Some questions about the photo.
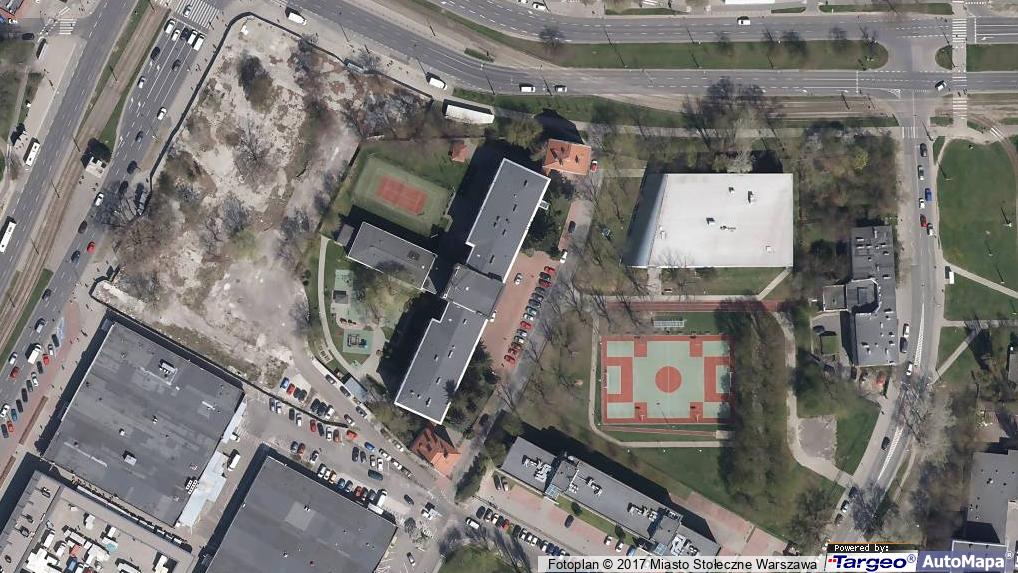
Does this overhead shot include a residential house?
Yes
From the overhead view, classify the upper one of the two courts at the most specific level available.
tennis court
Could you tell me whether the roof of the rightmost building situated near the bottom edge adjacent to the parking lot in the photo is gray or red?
gray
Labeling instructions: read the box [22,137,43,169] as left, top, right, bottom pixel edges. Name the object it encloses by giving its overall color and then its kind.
white bus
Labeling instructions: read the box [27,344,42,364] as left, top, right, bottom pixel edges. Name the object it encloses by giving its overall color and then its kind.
white vehicle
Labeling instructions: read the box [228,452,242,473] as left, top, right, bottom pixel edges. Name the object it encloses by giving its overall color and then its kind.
white vehicle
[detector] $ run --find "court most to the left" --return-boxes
[354,154,450,234]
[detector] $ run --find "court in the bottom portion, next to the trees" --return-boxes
[601,336,736,423]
